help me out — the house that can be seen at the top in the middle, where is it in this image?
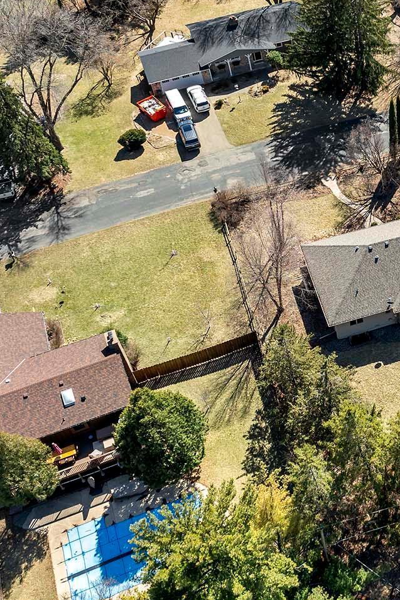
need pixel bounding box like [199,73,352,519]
[137,1,307,97]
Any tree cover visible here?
Yes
